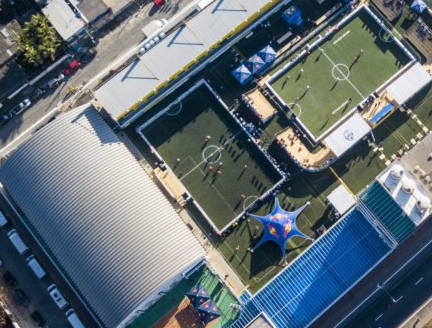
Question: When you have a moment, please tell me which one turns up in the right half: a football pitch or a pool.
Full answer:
The one visible in the right half is a football pitch.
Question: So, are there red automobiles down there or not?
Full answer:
Yes, there's a red automobile down there.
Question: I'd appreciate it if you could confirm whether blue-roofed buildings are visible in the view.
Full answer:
Yes, the picture does show a blue-roofed building.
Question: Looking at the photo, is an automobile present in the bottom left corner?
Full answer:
Yes, I can see an automobile in the bottom left corner.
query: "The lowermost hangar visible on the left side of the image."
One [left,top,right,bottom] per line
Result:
[0,104,211,328]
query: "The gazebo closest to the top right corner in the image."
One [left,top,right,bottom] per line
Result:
[410,0,427,16]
